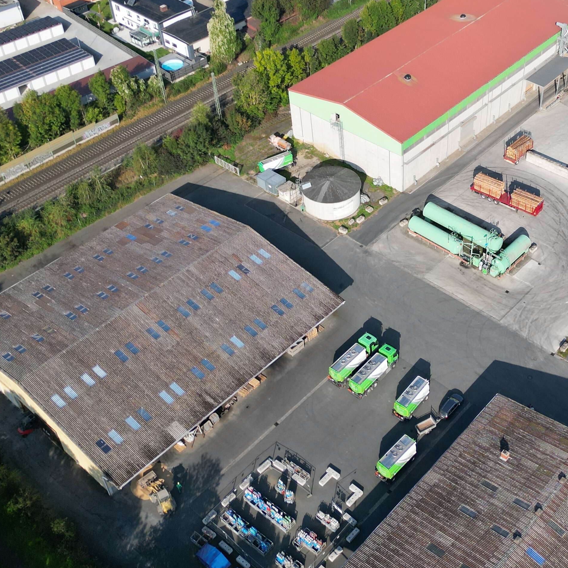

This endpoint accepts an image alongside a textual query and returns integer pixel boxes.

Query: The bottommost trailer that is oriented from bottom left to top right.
[374,432,417,484]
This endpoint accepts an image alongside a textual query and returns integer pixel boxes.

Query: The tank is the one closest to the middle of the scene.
[299,174,355,225]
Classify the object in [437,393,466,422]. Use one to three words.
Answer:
car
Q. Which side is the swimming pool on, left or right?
left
